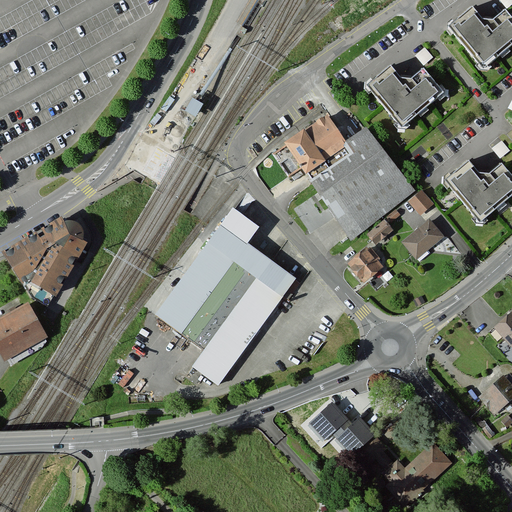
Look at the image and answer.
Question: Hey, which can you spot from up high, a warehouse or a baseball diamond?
warehouse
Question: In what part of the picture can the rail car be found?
top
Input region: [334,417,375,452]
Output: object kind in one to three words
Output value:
house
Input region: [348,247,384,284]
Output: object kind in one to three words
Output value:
house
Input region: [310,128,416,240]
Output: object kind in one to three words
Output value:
building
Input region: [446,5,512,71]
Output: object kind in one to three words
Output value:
building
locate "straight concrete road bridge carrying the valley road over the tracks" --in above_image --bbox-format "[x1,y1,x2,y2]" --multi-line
[0,430,88,453]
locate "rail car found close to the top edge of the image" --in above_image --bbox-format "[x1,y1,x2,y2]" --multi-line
[242,0,263,28]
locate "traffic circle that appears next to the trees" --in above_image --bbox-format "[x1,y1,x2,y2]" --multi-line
[362,316,427,377]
